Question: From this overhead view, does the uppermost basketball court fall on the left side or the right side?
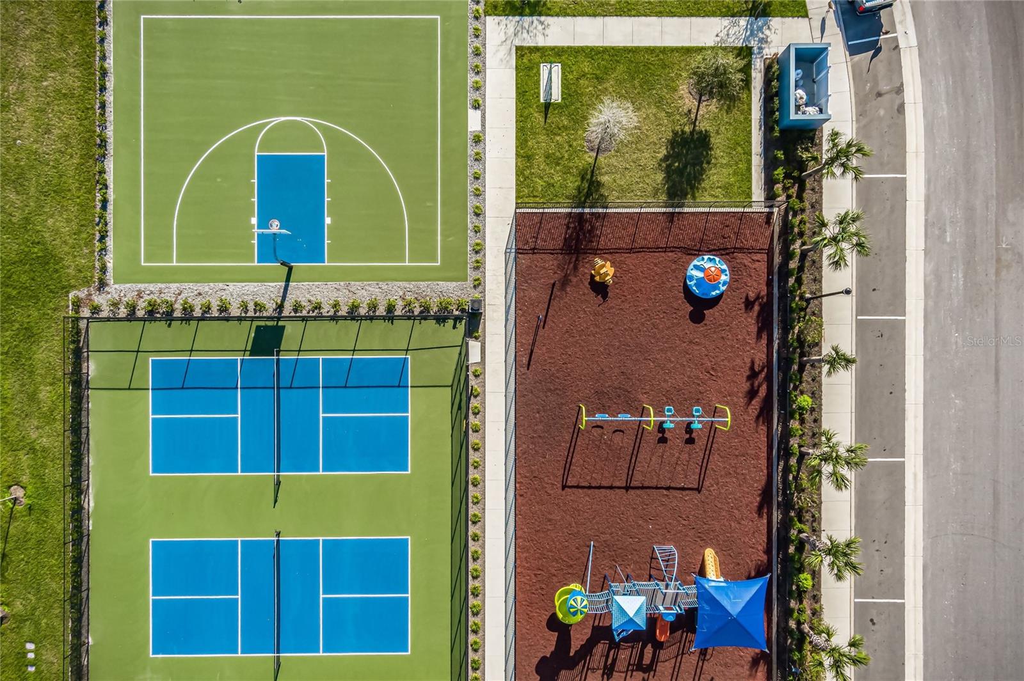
left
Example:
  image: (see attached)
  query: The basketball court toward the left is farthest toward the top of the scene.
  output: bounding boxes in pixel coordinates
[112,0,469,284]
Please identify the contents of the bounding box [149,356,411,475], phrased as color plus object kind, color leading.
blue sports court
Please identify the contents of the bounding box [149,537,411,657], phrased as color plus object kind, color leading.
blue sports court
